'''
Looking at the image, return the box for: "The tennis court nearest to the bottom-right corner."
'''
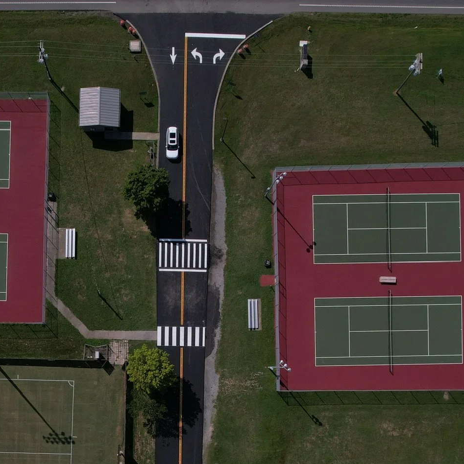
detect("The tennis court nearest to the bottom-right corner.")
[273,166,464,390]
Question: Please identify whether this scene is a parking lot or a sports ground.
sports ground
